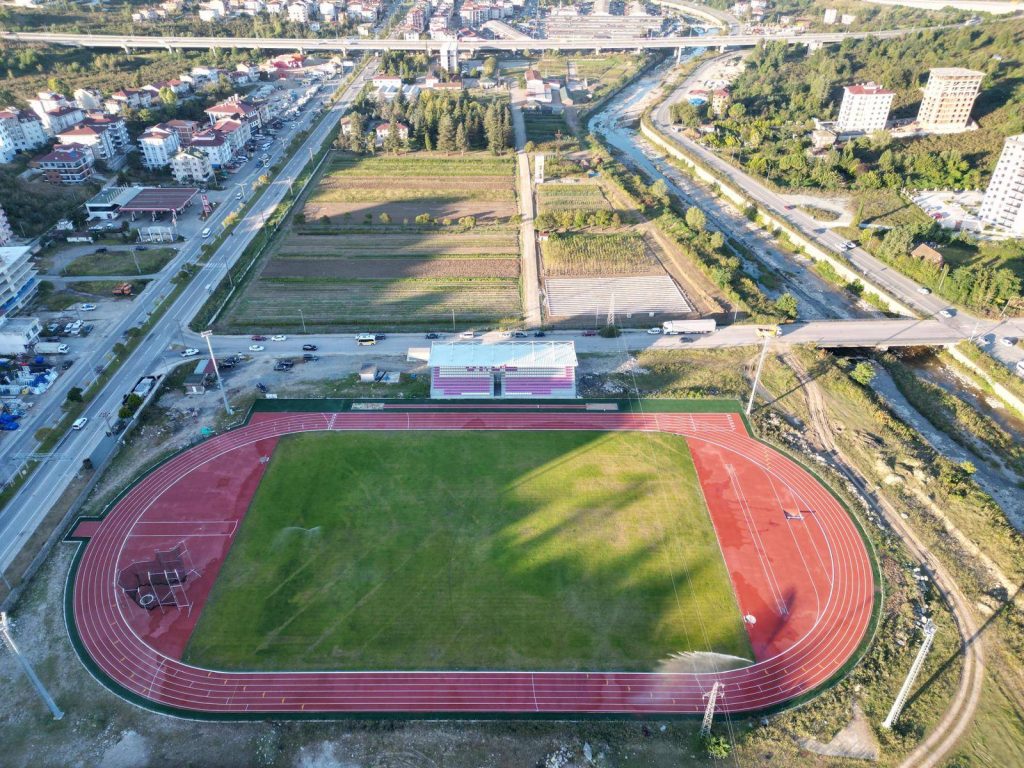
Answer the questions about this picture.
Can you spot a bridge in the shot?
Yes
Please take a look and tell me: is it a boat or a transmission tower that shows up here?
transmission tower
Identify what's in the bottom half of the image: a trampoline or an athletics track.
athletics track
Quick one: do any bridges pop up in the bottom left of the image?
No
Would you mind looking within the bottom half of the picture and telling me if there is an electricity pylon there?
Yes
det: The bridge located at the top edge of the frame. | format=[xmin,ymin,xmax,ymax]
[0,10,1009,62]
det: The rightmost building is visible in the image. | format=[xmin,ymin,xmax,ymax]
[975,142,1024,239]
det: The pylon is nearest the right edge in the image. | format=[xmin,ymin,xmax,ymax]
[699,685,726,730]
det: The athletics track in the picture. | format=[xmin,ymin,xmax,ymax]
[73,412,874,712]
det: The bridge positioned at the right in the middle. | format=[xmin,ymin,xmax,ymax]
[785,315,977,353]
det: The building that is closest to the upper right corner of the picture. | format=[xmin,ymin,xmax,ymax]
[910,66,987,127]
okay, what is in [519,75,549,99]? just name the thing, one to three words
house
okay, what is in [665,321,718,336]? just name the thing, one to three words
vehicle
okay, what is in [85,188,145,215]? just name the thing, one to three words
building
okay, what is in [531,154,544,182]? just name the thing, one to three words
shed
